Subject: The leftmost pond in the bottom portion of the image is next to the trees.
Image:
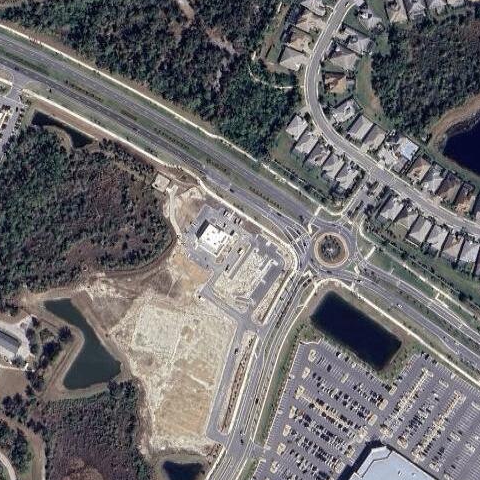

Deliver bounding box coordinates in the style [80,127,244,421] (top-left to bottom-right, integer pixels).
[47,299,121,389]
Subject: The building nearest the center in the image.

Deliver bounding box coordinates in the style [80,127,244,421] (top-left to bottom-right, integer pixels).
[195,225,234,259]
